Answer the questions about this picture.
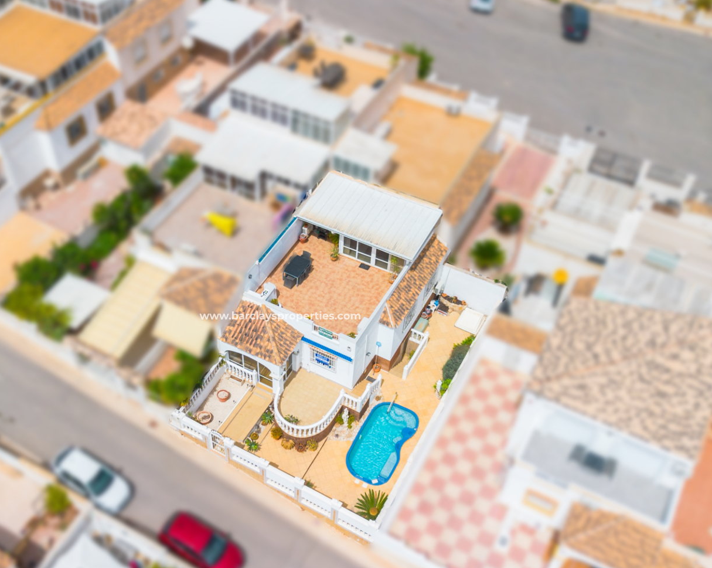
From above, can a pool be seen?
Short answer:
Yes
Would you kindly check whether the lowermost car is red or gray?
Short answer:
red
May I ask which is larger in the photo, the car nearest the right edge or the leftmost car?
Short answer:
the leftmost car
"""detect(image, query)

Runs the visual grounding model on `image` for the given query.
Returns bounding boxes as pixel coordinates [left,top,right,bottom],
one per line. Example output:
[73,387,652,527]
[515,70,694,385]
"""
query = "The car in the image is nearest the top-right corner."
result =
[563,8,590,41]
